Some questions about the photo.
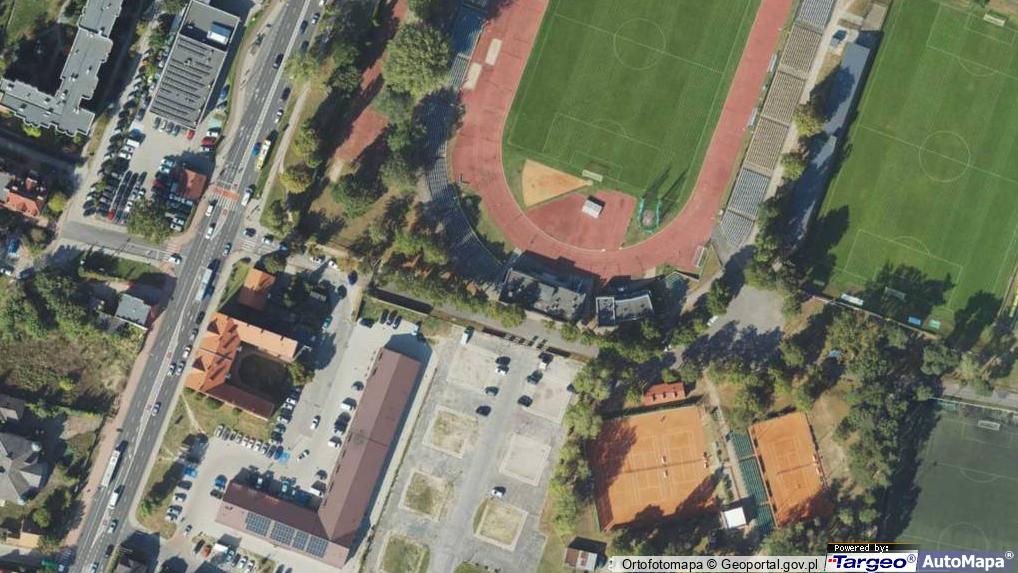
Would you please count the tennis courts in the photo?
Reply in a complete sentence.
There are 3 tennis courts in the image.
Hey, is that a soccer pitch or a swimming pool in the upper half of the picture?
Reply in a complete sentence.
Visible in the upper half of the picture is a soccer pitch.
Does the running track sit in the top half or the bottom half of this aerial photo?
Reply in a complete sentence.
You can find the running track in the top half.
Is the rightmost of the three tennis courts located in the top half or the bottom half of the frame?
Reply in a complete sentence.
Seen from above, the rightmost of the three tennis courts lies in the bottom half of the view.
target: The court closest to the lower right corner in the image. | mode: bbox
[749,412,834,527]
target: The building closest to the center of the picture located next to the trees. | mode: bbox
[500,269,586,323]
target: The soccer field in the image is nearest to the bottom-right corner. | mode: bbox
[865,403,1018,573]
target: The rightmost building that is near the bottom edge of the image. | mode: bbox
[564,549,597,572]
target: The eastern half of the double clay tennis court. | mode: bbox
[648,406,720,518]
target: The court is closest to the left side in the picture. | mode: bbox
[593,415,667,531]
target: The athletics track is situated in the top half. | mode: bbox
[451,0,792,284]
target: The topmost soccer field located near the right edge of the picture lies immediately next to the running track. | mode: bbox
[806,0,1018,330]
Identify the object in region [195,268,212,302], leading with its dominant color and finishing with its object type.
white vehicle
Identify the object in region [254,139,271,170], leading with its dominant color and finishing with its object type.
white vehicle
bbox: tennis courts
[749,412,834,527]
[648,406,720,518]
[593,415,667,531]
